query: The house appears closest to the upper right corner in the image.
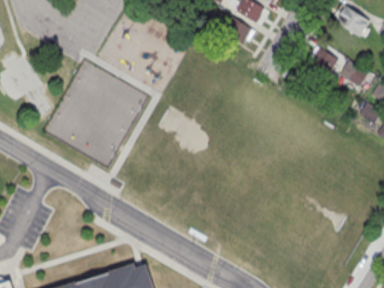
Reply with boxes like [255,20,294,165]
[336,6,370,37]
